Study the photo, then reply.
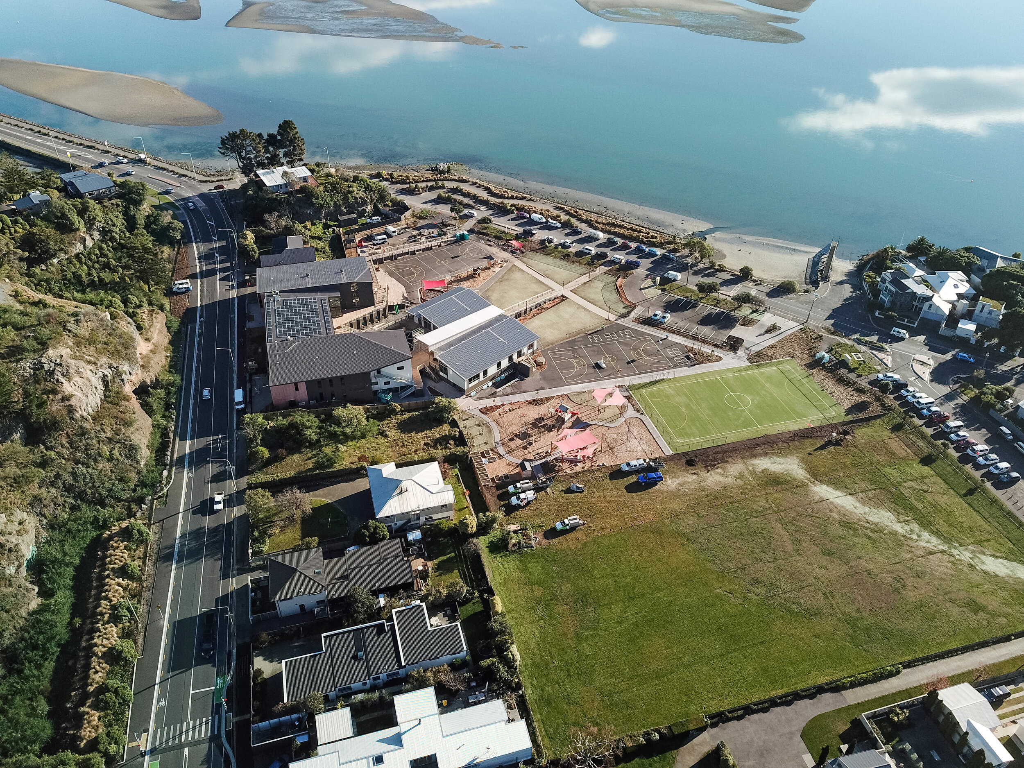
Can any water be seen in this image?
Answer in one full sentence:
Yes, water can be seen from above here.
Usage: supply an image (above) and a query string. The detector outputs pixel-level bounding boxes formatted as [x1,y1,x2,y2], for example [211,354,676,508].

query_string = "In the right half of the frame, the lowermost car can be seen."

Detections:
[982,684,1014,703]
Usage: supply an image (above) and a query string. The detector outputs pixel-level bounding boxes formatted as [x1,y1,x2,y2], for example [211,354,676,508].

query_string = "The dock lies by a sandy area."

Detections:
[820,233,841,285]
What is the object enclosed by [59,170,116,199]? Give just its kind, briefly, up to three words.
house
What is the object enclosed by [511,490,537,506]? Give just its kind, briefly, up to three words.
vehicle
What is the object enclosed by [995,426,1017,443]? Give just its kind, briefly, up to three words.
car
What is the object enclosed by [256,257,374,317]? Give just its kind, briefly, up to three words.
building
